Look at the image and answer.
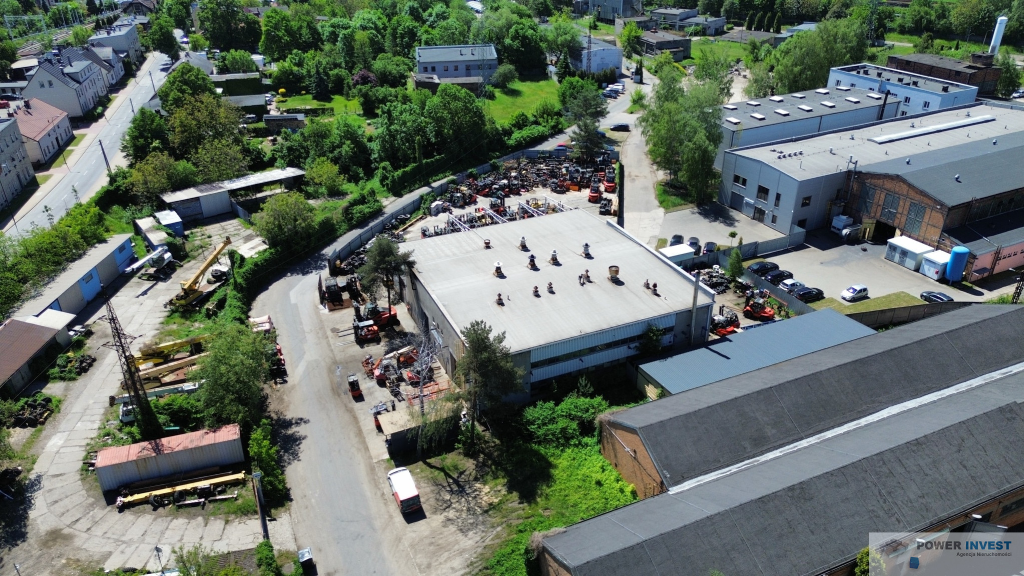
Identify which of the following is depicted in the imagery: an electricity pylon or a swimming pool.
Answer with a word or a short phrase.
electricity pylon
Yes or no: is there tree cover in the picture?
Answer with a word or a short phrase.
Yes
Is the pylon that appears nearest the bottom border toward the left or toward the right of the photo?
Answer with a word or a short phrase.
left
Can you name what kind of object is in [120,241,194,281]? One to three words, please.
crane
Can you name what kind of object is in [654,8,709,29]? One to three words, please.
shed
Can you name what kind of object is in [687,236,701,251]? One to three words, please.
car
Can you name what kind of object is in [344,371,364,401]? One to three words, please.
work vehicle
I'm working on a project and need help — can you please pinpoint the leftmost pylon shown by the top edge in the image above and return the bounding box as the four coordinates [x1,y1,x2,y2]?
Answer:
[466,0,497,105]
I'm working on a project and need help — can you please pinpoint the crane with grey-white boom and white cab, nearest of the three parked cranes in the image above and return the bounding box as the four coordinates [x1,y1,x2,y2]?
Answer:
[111,381,211,439]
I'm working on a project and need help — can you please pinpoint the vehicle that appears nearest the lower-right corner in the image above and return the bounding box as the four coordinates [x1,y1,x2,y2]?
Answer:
[917,288,959,303]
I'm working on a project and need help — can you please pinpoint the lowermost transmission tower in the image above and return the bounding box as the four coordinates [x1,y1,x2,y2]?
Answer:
[75,285,164,446]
